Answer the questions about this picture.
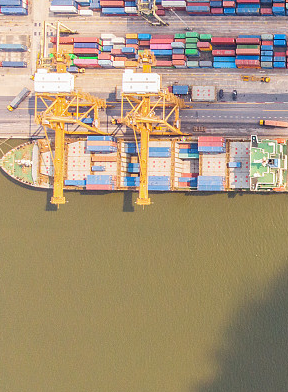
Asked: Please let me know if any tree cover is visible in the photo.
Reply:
No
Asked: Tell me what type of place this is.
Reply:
port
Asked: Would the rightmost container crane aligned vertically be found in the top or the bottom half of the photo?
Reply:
top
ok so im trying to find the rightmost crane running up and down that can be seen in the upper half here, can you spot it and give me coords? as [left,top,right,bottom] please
[123,51,195,208]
